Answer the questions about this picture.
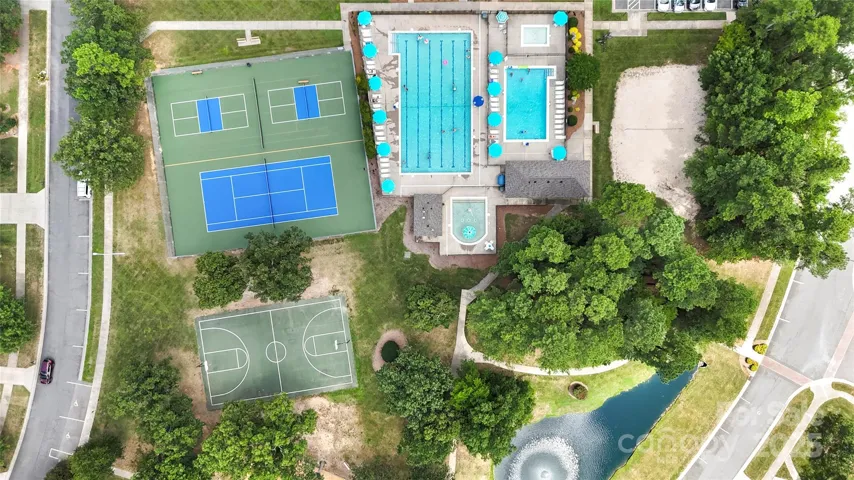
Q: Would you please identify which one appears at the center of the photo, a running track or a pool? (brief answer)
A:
pool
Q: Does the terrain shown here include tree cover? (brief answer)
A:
Yes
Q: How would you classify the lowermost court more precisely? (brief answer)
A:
basketball court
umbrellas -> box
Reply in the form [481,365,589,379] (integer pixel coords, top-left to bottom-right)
[487,112,502,128]
[474,96,484,107]
[362,44,377,59]
[368,77,382,92]
[488,52,503,67]
[377,142,391,157]
[495,12,506,25]
[358,12,371,27]
[373,110,387,124]
[486,82,500,97]
[551,147,565,160]
[552,13,566,28]
[380,179,394,193]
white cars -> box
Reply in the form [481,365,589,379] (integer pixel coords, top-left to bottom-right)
[657,0,671,12]
[673,0,686,14]
[76,173,92,200]
[689,0,702,12]
[703,0,717,12]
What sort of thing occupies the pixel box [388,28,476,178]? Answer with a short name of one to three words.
swimming pool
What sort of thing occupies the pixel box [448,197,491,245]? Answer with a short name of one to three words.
swimming pool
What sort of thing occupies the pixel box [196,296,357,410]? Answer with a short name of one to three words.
basketball court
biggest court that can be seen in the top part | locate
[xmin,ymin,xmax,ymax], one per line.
[156,52,375,257]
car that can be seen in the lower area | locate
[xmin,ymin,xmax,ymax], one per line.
[38,357,56,384]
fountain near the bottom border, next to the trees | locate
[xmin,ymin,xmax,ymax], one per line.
[503,434,585,480]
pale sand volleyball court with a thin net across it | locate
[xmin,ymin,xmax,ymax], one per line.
[610,62,712,214]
